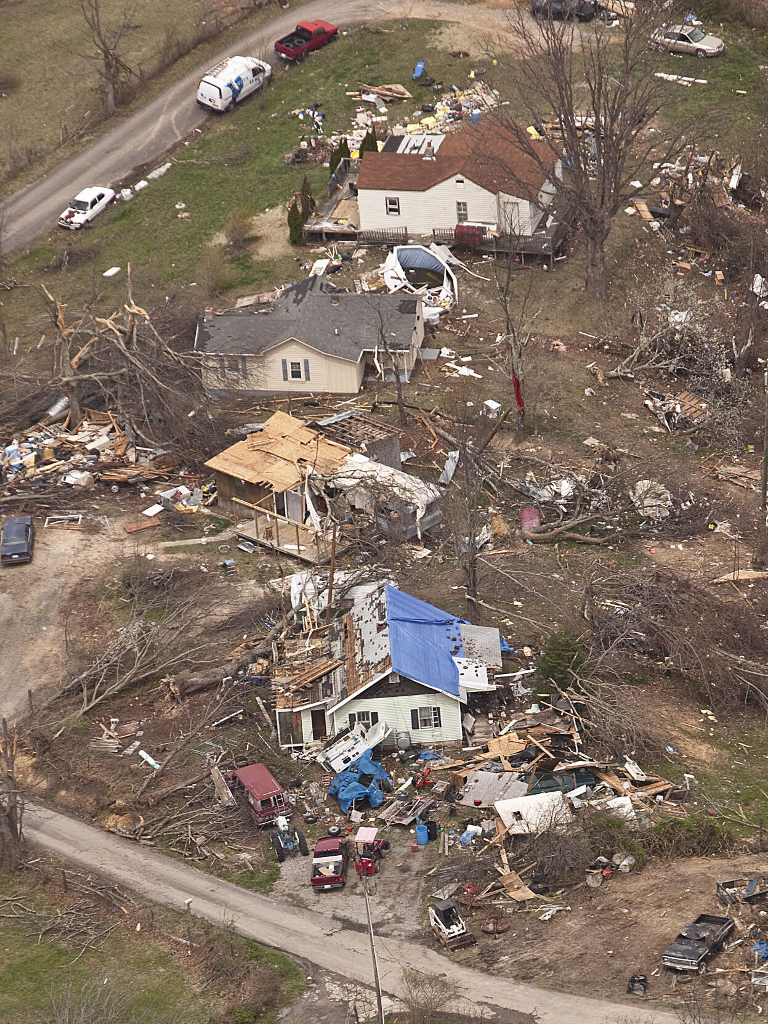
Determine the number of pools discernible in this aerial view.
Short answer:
1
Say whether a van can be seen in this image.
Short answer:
Yes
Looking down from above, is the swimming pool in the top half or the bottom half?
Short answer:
top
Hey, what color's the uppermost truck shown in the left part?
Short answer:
red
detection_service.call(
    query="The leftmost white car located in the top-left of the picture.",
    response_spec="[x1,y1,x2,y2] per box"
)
[58,181,116,224]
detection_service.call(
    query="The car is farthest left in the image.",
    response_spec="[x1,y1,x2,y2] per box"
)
[0,511,33,561]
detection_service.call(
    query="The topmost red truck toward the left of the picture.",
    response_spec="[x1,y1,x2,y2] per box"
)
[270,16,344,56]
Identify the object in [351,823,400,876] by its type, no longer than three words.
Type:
work vehicle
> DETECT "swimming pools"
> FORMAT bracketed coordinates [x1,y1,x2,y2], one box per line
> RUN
[387,244,459,308]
